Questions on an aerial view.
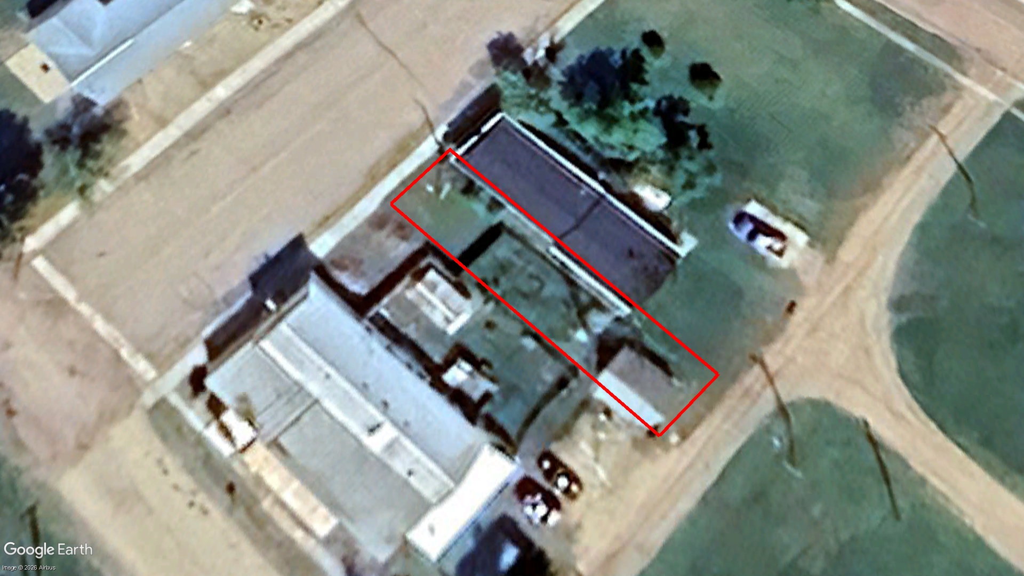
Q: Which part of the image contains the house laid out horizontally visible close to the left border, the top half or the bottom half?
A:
top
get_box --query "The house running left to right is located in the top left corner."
[28,0,257,106]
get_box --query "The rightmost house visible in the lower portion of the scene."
[592,345,687,430]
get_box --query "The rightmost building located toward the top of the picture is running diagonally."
[452,114,699,318]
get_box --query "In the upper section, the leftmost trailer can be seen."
[628,180,670,214]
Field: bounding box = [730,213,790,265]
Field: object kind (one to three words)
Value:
car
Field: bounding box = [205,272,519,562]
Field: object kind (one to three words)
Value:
building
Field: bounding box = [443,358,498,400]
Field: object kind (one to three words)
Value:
shed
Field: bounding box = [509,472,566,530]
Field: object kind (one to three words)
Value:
truck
